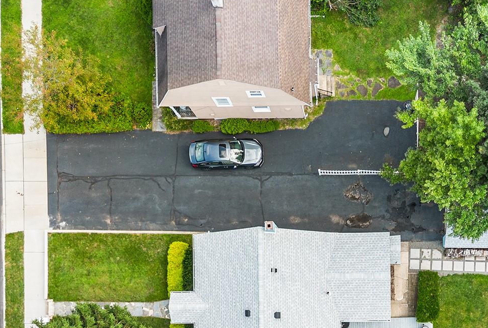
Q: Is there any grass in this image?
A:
Yes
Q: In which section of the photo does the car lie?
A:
center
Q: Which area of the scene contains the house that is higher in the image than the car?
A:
top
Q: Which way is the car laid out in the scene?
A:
from side to side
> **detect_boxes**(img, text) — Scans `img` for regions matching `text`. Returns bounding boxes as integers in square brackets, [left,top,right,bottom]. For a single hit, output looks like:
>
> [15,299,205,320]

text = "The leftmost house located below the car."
[166,220,401,328]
